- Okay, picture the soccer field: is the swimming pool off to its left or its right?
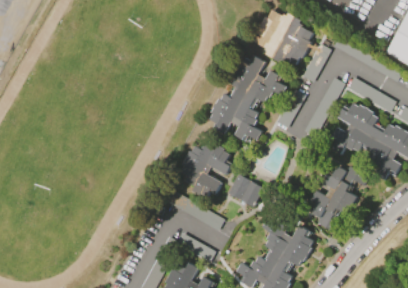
to its right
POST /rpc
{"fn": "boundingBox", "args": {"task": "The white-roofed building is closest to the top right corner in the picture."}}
[388,14,408,63]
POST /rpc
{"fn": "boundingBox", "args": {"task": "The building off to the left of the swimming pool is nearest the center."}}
[190,144,231,197]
